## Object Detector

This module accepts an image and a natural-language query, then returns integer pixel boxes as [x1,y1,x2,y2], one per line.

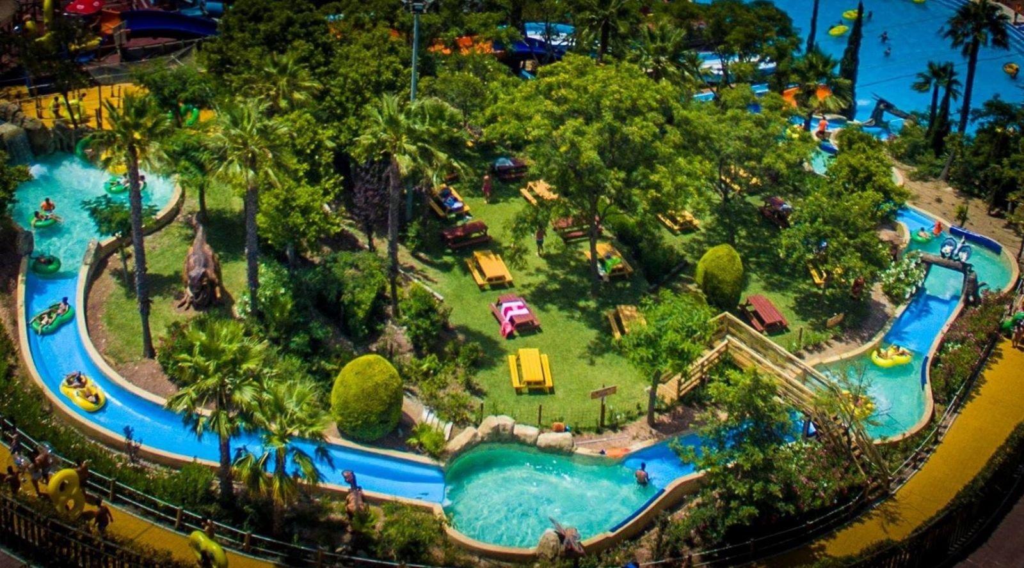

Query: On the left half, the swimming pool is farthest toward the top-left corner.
[0,153,191,284]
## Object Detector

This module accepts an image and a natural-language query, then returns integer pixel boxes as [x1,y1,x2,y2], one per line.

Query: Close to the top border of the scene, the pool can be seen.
[764,0,1024,164]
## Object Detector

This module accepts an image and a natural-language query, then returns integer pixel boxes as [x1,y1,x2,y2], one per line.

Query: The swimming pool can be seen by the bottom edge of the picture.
[439,441,663,549]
